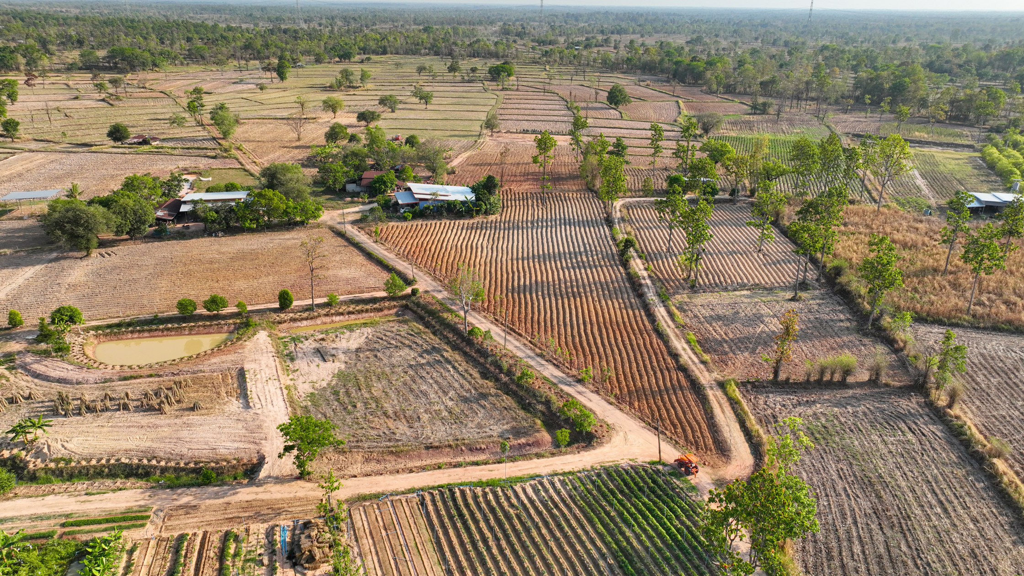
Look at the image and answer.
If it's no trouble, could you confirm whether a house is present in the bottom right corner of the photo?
No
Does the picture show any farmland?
Yes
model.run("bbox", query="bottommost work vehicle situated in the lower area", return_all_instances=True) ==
[672,451,699,477]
